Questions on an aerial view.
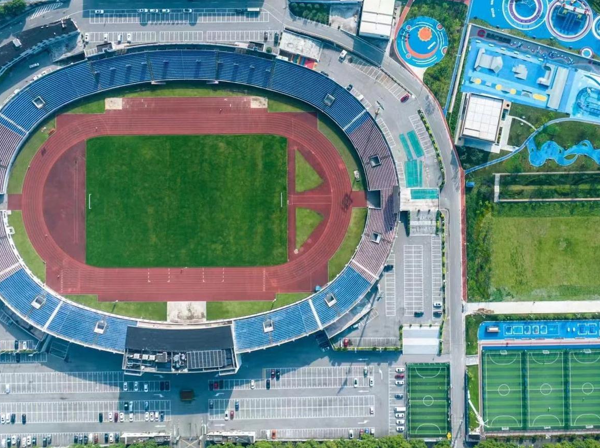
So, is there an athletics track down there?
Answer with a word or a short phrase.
Yes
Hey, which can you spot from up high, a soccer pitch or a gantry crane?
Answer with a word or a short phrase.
soccer pitch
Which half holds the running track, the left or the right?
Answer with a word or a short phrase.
left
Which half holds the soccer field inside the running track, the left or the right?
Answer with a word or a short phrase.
left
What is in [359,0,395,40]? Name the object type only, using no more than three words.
building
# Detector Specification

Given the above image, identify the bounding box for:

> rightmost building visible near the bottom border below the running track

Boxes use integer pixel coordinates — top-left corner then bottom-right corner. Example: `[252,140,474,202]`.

[207,429,256,443]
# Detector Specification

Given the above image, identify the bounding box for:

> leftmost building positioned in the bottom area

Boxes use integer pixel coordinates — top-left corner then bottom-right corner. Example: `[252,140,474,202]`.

[122,429,173,445]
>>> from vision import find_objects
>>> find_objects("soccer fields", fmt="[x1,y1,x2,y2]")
[526,350,567,430]
[407,363,449,438]
[483,350,525,431]
[86,135,288,267]
[568,349,600,430]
